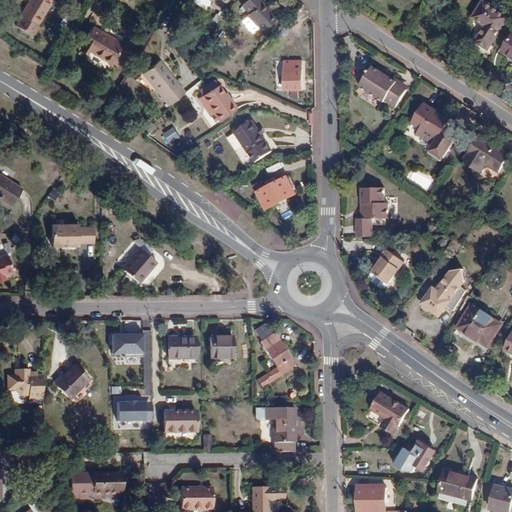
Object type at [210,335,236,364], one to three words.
house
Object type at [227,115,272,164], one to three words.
house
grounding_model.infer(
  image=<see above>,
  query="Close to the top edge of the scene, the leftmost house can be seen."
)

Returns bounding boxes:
[14,0,50,42]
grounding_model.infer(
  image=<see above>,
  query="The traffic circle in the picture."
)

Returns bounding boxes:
[272,246,347,322]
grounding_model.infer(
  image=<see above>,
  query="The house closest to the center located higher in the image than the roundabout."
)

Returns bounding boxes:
[254,175,296,213]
